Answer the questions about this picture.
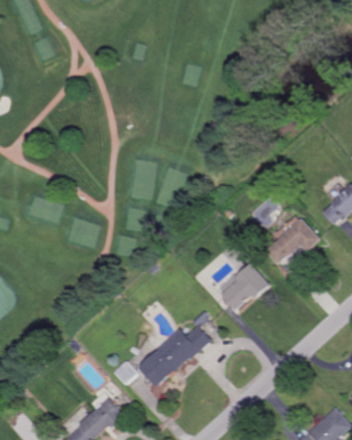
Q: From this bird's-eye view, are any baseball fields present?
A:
No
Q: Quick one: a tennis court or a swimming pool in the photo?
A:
swimming pool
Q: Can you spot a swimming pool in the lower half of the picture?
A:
Yes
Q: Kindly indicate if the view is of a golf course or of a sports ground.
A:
golf course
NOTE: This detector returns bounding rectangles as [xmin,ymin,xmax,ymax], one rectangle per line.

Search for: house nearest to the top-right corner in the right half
[323,184,352,226]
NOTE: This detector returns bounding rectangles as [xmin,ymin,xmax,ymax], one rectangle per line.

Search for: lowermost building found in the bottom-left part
[66,396,118,440]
